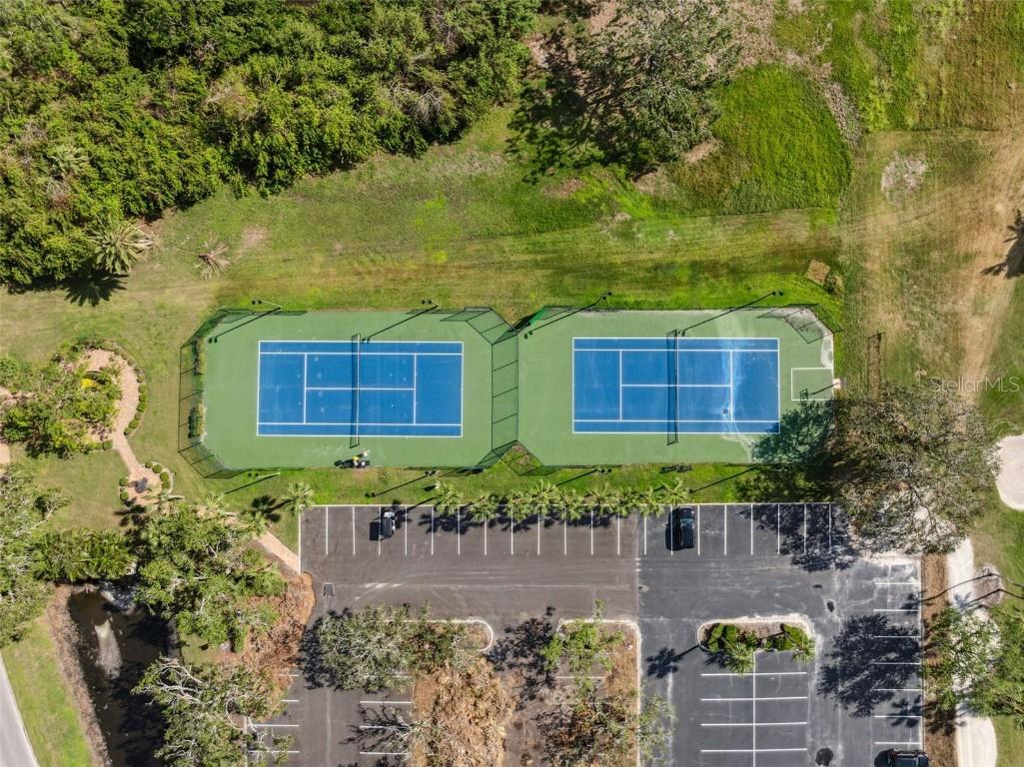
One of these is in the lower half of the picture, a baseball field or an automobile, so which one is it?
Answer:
automobile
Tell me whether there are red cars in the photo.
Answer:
No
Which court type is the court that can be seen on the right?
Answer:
tennis court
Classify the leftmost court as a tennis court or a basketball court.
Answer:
tennis court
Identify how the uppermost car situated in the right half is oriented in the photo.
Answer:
vertically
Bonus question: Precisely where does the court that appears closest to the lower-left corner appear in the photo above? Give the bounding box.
[204,309,517,469]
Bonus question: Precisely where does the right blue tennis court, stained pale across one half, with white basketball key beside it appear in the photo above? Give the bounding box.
[518,307,833,466]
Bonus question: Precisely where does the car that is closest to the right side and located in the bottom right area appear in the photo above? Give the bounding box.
[887,747,930,767]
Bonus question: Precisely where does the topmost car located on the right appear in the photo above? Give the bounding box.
[678,508,699,550]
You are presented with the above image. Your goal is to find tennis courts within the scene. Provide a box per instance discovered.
[518,307,833,466]
[204,309,517,469]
